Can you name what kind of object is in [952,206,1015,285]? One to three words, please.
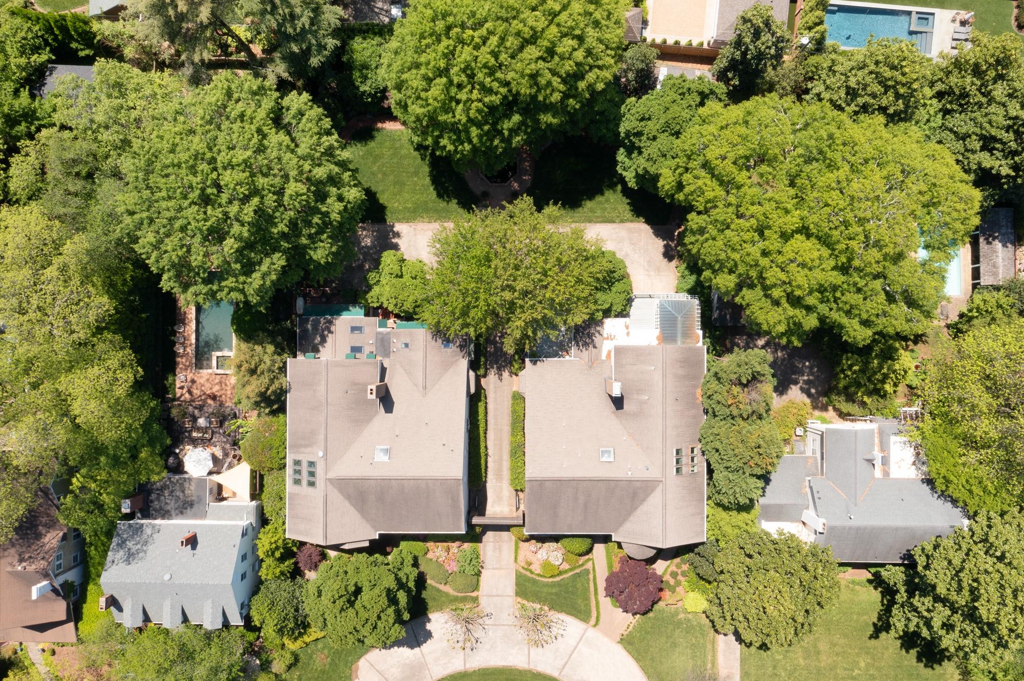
shed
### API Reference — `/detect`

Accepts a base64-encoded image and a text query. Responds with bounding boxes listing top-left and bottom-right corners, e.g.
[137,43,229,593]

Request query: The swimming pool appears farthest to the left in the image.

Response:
[191,268,237,373]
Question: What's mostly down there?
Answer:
trees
